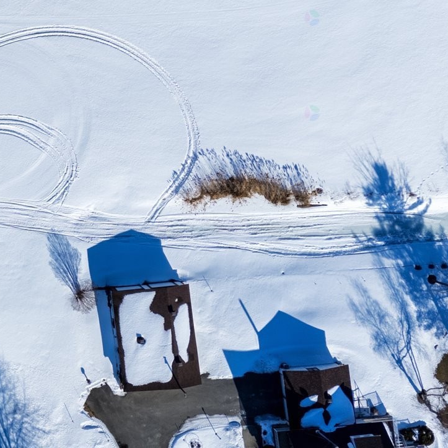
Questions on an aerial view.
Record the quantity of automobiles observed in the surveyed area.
0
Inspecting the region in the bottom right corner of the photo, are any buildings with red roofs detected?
No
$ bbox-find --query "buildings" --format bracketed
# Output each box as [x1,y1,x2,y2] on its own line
[108,280,202,392]
[266,360,397,448]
